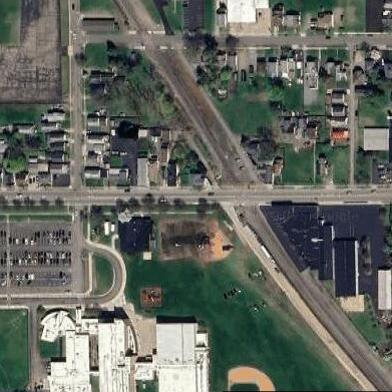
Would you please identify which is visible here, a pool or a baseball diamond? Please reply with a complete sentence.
I can see a baseball diamond in this picture.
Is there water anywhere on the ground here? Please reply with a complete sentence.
No, there's no water in this view.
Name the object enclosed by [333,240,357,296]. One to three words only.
building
